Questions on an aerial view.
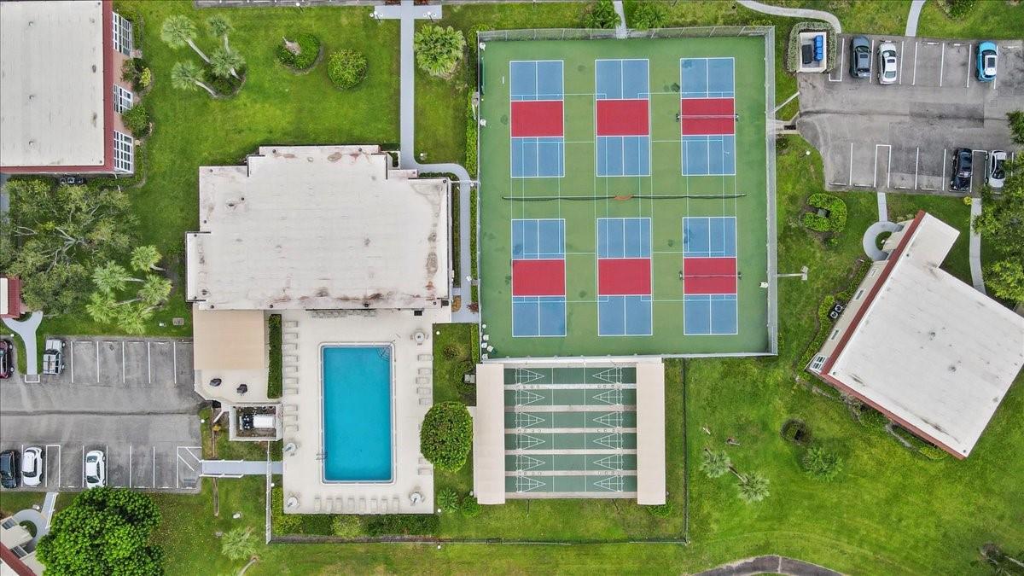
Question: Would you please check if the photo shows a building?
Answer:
Yes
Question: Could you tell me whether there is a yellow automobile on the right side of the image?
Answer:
No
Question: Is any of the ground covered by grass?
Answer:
Yes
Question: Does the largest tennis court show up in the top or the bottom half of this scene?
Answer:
top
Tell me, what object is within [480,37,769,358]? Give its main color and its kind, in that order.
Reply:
green tennis court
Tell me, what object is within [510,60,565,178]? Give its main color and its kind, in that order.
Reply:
blue sports court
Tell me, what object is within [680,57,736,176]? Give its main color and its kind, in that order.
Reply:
blue sports court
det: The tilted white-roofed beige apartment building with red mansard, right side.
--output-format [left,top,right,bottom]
[807,209,1024,460]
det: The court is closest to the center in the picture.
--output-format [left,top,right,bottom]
[511,219,566,337]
